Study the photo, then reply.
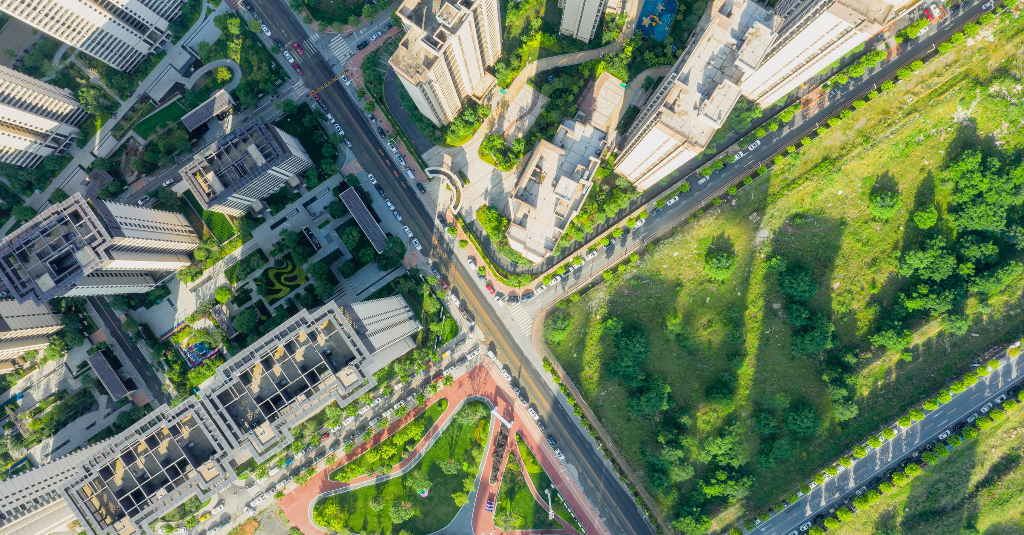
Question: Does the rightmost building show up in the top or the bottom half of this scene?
top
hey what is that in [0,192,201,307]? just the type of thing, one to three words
building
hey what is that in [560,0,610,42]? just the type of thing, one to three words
building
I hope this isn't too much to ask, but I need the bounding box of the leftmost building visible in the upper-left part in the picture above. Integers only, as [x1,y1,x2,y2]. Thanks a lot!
[0,48,87,151]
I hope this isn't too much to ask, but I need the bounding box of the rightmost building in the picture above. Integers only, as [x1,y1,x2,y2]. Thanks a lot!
[739,0,905,103]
